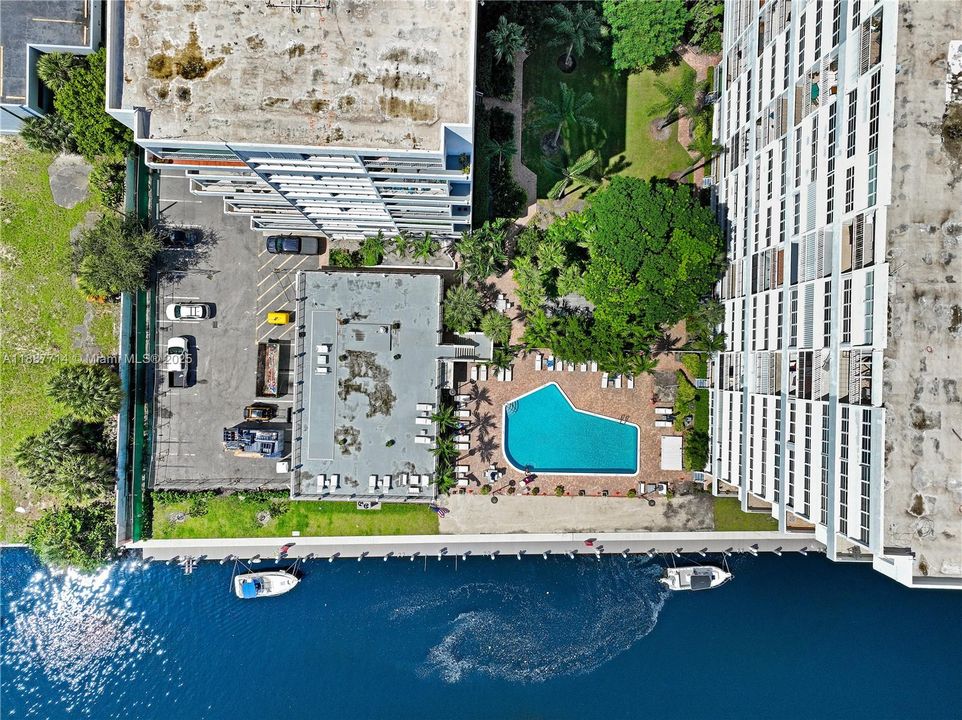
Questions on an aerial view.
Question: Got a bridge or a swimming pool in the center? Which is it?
swimming pool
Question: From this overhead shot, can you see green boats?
No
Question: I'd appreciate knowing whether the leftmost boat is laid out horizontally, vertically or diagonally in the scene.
horizontally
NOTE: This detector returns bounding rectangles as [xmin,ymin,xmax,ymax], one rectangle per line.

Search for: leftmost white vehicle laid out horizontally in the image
[164,301,206,321]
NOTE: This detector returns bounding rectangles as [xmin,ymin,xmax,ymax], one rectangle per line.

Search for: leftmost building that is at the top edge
[104,0,487,248]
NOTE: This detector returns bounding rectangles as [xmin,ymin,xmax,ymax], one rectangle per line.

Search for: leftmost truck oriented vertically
[162,337,186,388]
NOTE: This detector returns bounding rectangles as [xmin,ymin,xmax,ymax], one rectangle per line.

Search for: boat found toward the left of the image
[231,572,299,598]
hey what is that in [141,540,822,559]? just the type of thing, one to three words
pier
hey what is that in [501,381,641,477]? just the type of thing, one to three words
swimming pool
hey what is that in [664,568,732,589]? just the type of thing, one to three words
boat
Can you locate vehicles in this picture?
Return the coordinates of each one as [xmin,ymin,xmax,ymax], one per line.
[164,301,206,321]
[265,235,317,255]
[163,227,205,246]
[162,337,186,388]
[241,403,270,420]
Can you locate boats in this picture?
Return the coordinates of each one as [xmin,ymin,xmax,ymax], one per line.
[231,572,299,598]
[664,568,732,589]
